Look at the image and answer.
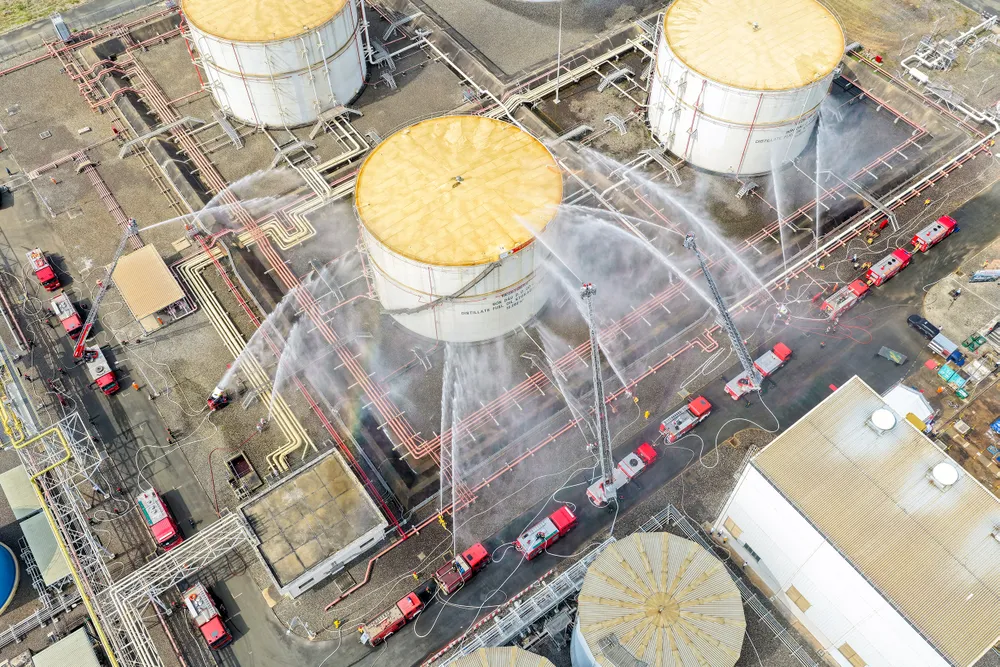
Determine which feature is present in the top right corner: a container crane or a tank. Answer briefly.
tank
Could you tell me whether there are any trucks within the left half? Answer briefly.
Yes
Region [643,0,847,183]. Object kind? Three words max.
storage tank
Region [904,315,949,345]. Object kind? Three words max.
car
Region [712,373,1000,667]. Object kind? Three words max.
building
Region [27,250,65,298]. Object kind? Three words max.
truck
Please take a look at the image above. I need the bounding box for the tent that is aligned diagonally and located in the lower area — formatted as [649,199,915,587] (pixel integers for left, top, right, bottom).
[883,383,935,424]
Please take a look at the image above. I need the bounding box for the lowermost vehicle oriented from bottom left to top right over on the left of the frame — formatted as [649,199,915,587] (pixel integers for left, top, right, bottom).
[361,588,431,650]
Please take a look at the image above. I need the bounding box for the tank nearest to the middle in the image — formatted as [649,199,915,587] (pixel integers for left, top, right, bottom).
[353,108,565,348]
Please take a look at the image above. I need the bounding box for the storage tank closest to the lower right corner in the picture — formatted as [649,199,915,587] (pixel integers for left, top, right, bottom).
[571,532,747,667]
